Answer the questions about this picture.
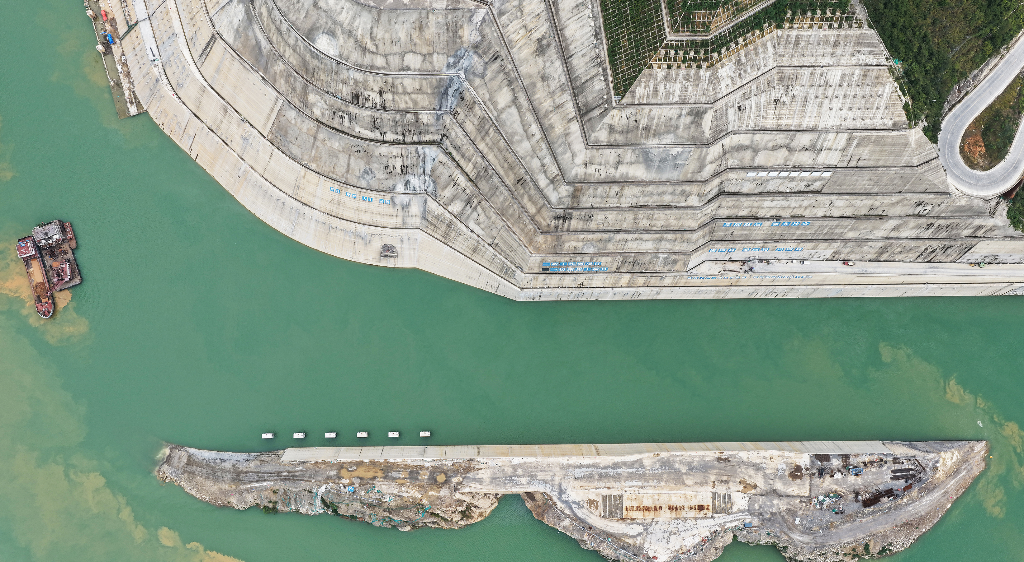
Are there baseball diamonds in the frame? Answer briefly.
No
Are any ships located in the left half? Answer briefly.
Yes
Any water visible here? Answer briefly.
Yes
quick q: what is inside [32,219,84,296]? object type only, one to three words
ship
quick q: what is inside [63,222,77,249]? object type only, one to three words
boat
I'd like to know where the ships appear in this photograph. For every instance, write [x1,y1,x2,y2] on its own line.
[32,219,84,296]
[15,235,56,319]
